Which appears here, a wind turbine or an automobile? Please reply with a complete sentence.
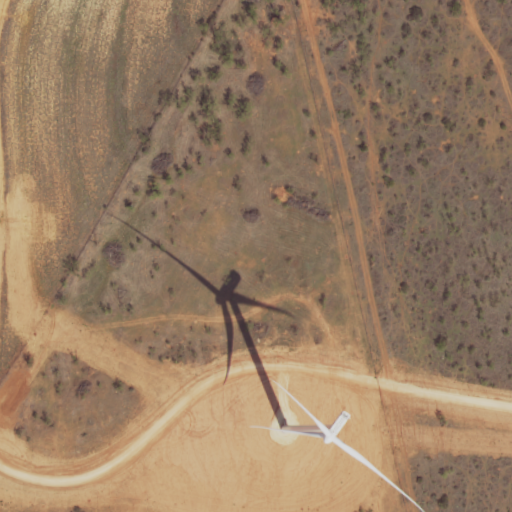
There is a wind turbine in the scene.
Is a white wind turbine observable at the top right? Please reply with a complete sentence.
No, there is no white wind turbine at the top right.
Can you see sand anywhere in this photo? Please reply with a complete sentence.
Yes, some sand is visible.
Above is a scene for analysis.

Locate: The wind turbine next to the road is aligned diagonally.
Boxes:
[254,386,429,511]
